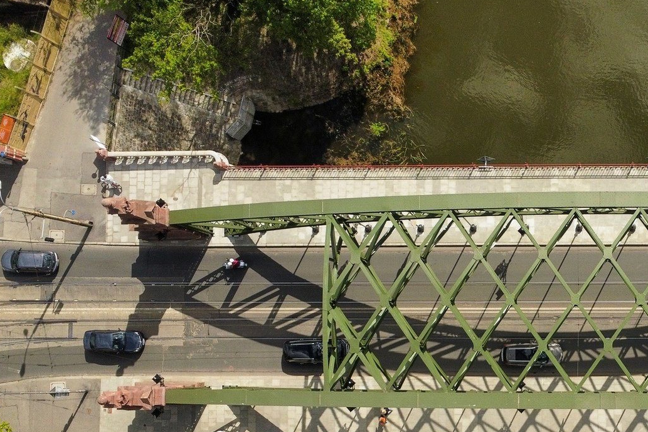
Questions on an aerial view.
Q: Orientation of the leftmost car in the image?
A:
from side to side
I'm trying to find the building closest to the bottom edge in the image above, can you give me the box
[0,130,30,160]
